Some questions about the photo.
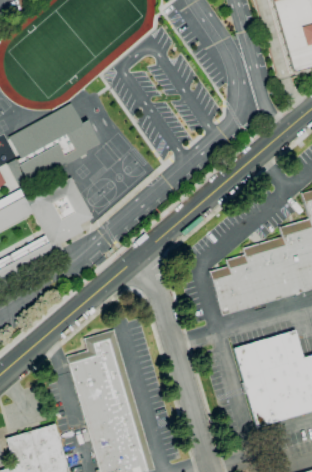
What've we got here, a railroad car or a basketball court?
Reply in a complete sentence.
The image shows a basketball court.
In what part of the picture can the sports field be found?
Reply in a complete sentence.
You can find the sports field in the top left area of the picture.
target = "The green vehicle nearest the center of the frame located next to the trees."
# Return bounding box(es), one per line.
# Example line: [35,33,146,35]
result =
[182,216,204,236]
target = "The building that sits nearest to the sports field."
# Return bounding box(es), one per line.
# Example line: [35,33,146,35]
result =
[8,102,84,162]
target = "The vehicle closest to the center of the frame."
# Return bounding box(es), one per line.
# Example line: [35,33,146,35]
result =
[132,233,149,248]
